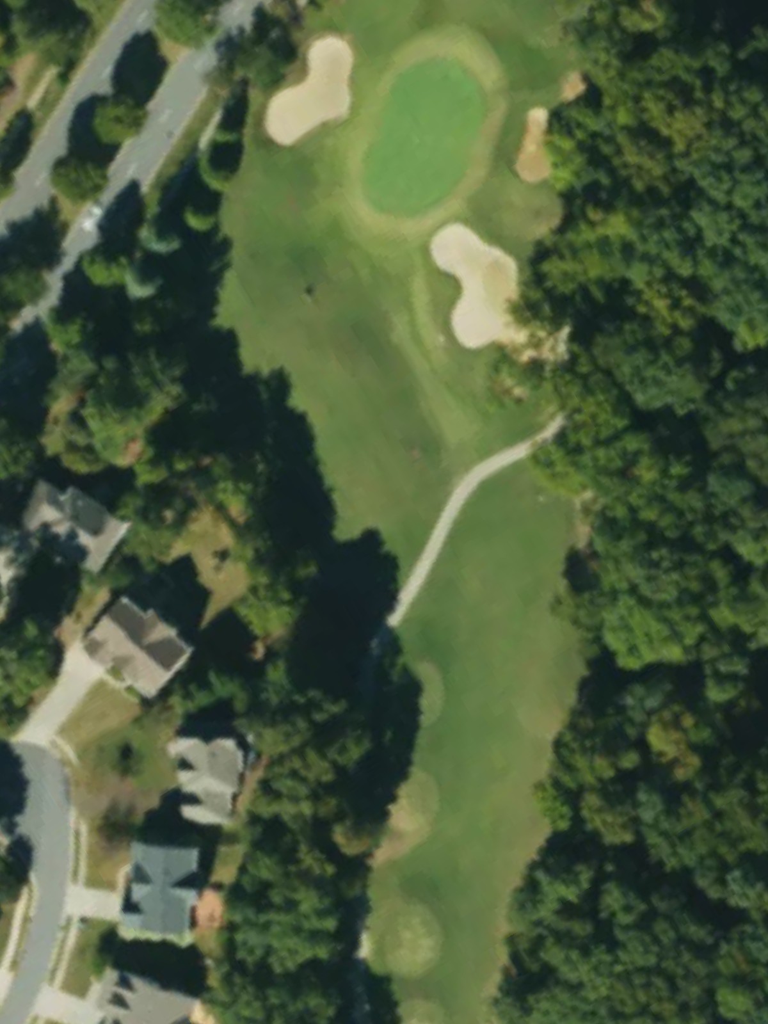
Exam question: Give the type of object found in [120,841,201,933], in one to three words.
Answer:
house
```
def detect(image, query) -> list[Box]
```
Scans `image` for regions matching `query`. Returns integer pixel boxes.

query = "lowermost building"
[83,964,201,1024]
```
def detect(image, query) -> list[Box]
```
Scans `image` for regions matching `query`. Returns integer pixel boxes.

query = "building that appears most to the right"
[168,735,243,824]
